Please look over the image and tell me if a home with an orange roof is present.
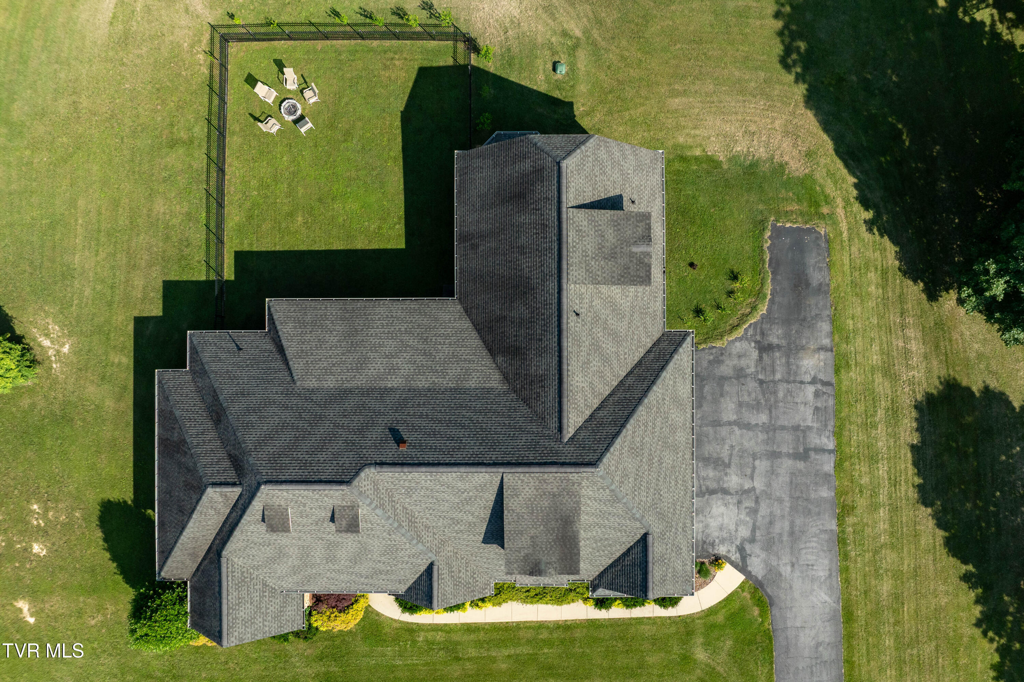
No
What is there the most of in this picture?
grass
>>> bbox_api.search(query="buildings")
[155,130,695,647]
